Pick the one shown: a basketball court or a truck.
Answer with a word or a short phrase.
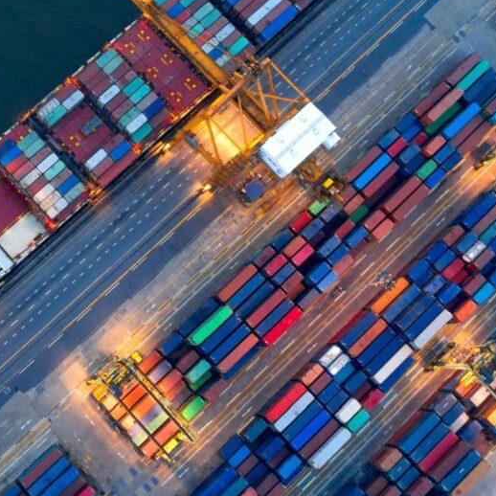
truck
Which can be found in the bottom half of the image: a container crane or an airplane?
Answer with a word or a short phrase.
container crane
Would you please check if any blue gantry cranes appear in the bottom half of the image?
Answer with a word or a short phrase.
No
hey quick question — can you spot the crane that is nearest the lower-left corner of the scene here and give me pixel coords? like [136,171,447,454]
[86,357,199,465]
